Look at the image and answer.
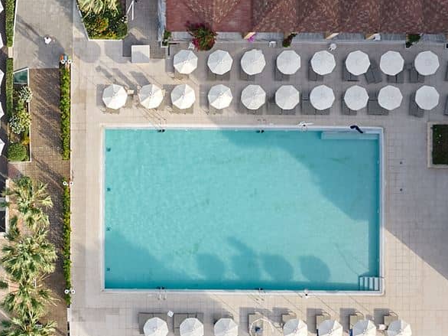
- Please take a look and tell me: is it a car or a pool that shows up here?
pool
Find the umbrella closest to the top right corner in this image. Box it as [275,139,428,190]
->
[413,51,438,77]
